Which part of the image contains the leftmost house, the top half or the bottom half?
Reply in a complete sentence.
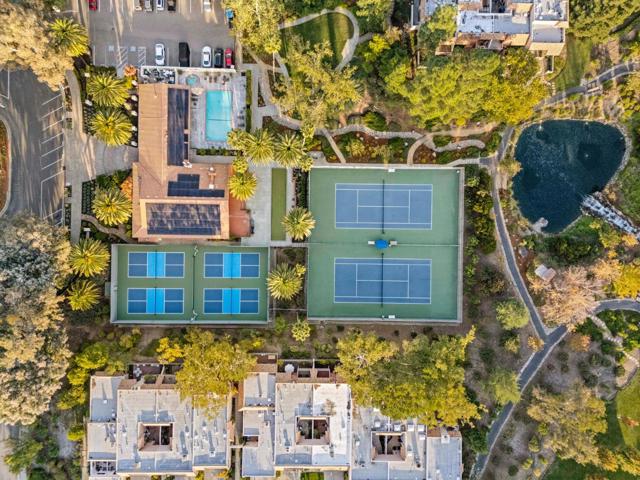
The leftmost house sits in the bottom half of the picture.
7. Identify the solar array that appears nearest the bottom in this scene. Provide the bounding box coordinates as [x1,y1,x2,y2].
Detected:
[145,204,221,234]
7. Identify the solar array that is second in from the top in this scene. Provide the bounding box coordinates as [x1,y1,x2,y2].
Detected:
[167,174,224,196]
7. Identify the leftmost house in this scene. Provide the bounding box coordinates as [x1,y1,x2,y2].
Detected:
[87,369,129,480]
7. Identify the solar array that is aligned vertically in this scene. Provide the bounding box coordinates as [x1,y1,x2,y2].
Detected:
[167,88,189,166]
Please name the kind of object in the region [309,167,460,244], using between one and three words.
tennis court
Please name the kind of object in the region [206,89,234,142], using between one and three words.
swimming pool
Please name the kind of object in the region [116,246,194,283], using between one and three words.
sports court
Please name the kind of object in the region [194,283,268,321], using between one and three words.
sports court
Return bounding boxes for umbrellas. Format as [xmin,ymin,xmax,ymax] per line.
[191,85,204,98]
[284,362,295,372]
